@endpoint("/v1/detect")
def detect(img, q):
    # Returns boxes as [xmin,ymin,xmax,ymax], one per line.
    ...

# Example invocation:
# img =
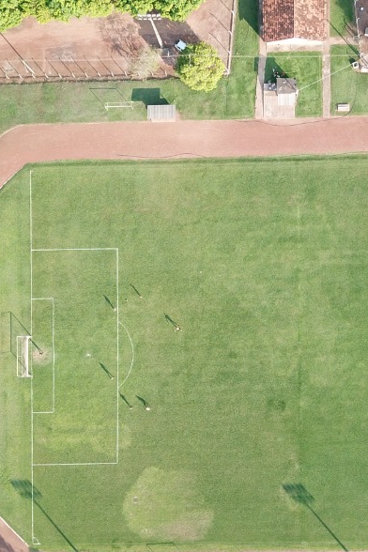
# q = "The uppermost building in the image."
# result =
[263,0,326,48]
